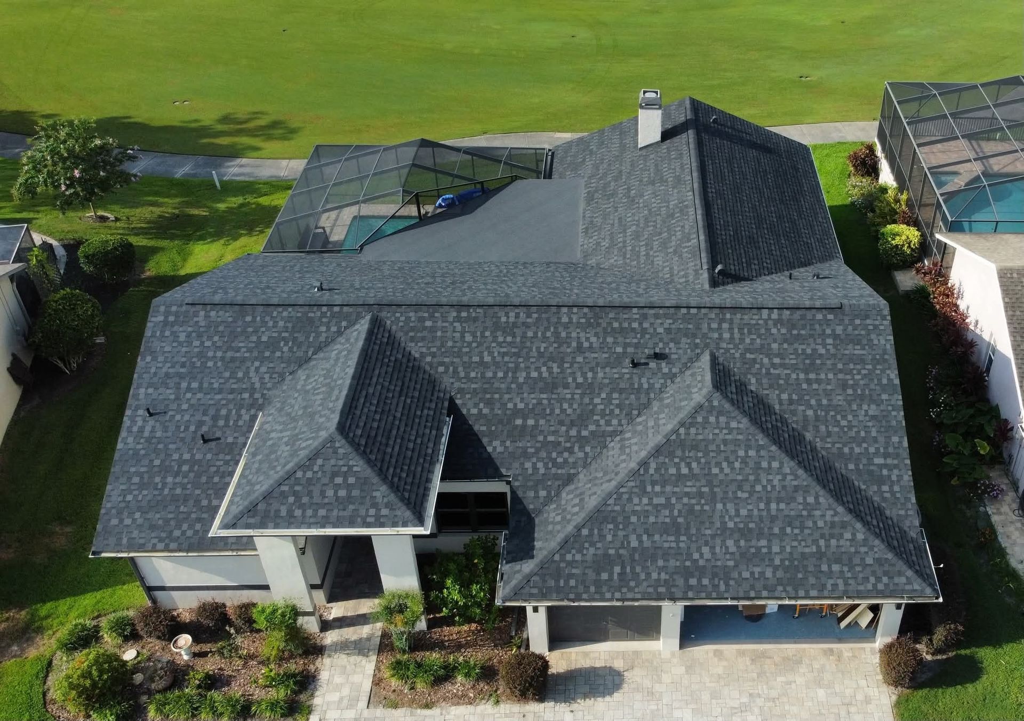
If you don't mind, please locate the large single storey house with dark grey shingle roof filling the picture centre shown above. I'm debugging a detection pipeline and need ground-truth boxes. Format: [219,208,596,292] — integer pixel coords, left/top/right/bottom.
[92,84,945,652]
